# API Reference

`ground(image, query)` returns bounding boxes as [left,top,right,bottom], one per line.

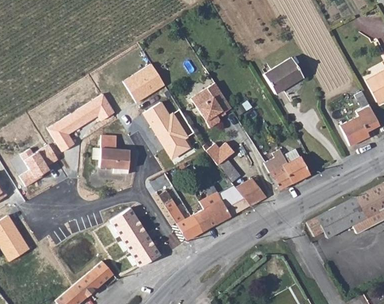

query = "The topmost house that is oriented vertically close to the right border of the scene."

[361,54,384,106]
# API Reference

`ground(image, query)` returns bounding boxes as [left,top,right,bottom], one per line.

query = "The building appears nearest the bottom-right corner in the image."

[305,182,384,238]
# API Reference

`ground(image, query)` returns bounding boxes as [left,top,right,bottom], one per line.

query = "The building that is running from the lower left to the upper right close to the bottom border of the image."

[54,262,114,304]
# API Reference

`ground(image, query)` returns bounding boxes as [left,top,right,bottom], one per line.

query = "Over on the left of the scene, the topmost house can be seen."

[122,64,165,103]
